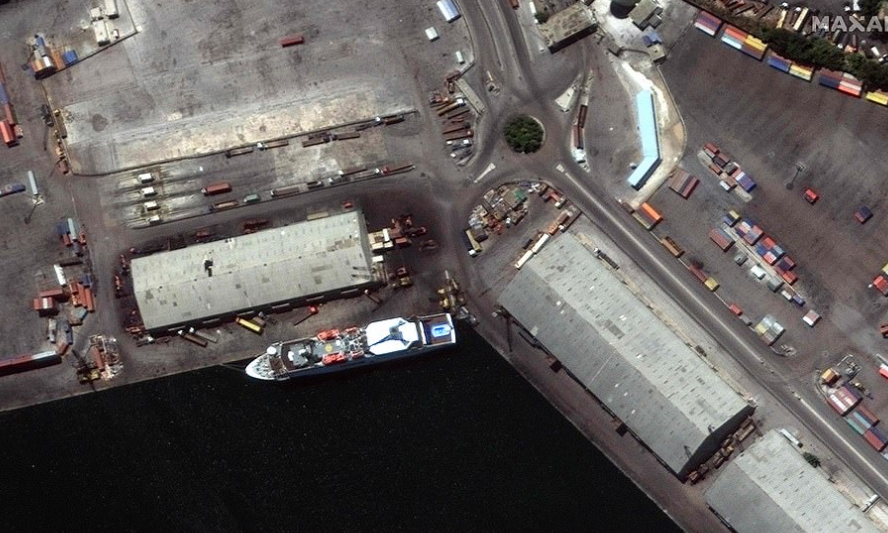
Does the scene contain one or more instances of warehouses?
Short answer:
Yes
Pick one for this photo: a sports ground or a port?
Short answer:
port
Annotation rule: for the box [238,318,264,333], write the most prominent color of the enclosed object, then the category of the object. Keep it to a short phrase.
yellow vehicle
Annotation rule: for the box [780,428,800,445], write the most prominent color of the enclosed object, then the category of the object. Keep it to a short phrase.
white vehicle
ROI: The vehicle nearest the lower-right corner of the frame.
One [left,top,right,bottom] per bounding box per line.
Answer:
[864,495,881,513]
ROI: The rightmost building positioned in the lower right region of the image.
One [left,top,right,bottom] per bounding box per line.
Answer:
[705,430,881,533]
